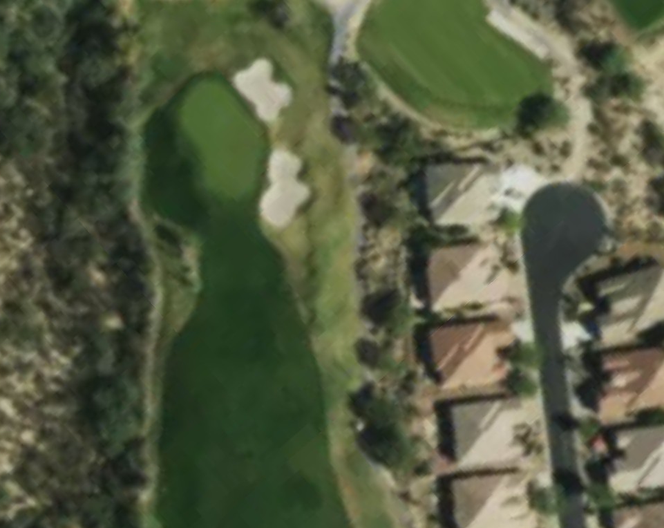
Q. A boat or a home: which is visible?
home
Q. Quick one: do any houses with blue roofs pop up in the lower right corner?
No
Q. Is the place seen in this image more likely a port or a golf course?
golf course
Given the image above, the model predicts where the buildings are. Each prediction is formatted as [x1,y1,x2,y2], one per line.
[615,505,664,528]
[453,475,536,528]
[426,243,507,314]
[593,267,664,343]
[598,349,664,420]
[449,402,528,466]
[424,164,499,230]
[431,323,514,389]
[611,429,664,492]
